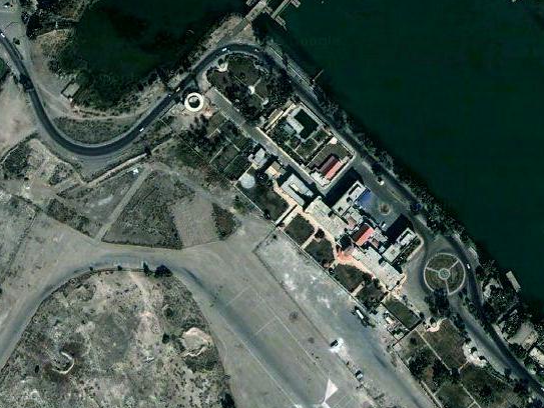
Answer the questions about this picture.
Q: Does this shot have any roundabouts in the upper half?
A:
No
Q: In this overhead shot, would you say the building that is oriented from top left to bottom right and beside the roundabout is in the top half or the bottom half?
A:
bottom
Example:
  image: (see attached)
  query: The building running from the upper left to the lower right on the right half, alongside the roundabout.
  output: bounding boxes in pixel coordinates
[352,247,403,290]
